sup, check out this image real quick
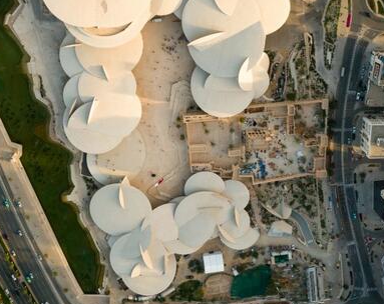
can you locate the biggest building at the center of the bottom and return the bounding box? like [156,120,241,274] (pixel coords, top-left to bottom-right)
[91,167,260,292]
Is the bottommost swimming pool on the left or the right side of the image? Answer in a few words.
right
